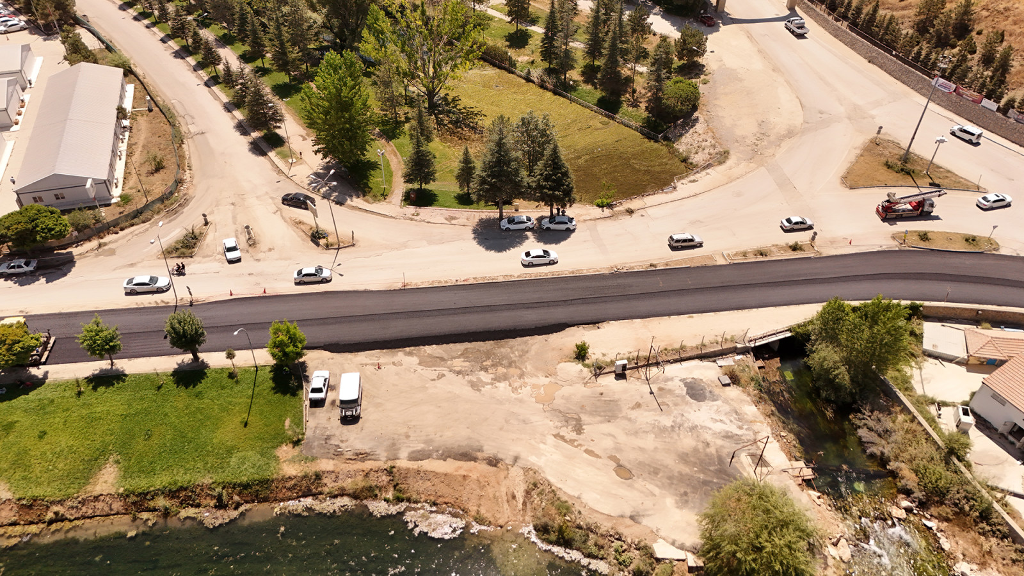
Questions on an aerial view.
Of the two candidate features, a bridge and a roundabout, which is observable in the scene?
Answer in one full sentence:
Looking from above, you can make out a bridge.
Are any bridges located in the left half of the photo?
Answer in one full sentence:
No, I see no bridge in the left half of the photo.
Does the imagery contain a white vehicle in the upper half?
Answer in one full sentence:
Yes, I can see a white vehicle in the upper half.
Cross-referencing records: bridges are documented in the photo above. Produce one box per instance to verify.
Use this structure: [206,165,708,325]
[738,303,825,357]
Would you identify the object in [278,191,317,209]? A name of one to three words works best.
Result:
car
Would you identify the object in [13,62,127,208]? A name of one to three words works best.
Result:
building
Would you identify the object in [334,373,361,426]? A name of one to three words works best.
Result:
vehicle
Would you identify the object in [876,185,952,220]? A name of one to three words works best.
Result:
truck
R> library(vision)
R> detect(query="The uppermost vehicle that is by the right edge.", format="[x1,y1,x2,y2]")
[949,123,988,142]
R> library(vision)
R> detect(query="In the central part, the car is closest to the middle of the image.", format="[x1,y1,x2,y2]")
[519,248,560,266]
